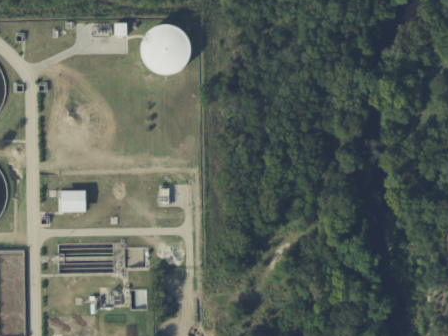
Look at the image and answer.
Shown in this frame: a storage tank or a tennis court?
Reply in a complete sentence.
There is a storage tank in the scene.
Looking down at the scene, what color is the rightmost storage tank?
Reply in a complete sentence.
The color of the rightmost storage tank is white.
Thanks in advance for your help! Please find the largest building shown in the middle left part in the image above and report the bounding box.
[58,190,87,214]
